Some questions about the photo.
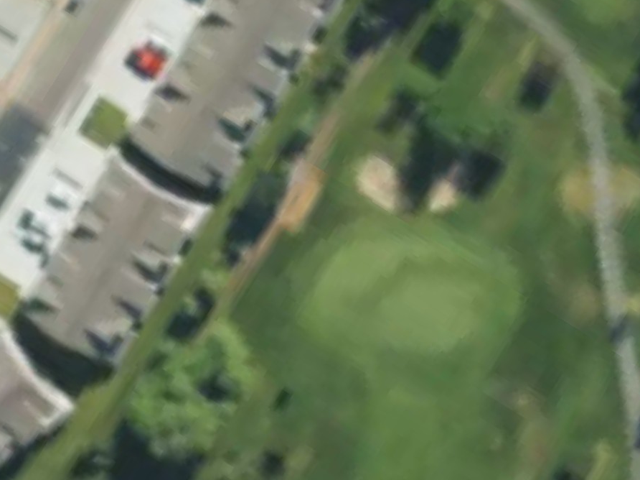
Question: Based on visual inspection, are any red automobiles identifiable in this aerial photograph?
Yes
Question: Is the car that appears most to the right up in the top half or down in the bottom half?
top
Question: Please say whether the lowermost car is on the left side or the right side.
left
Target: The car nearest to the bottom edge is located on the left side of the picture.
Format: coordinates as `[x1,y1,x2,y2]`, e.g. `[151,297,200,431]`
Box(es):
[18,214,59,246]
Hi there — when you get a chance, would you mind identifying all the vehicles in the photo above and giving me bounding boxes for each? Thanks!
[66,0,85,11]
[44,177,81,207]
[18,214,59,246]
[128,43,167,76]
